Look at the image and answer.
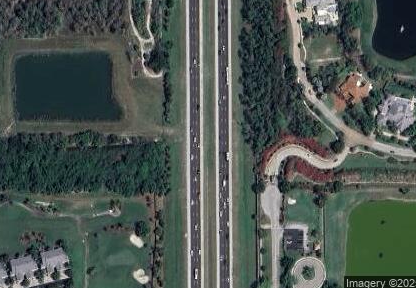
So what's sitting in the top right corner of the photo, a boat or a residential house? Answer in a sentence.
There is a residential house in the top right corner of the photo.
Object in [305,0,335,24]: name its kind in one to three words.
house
